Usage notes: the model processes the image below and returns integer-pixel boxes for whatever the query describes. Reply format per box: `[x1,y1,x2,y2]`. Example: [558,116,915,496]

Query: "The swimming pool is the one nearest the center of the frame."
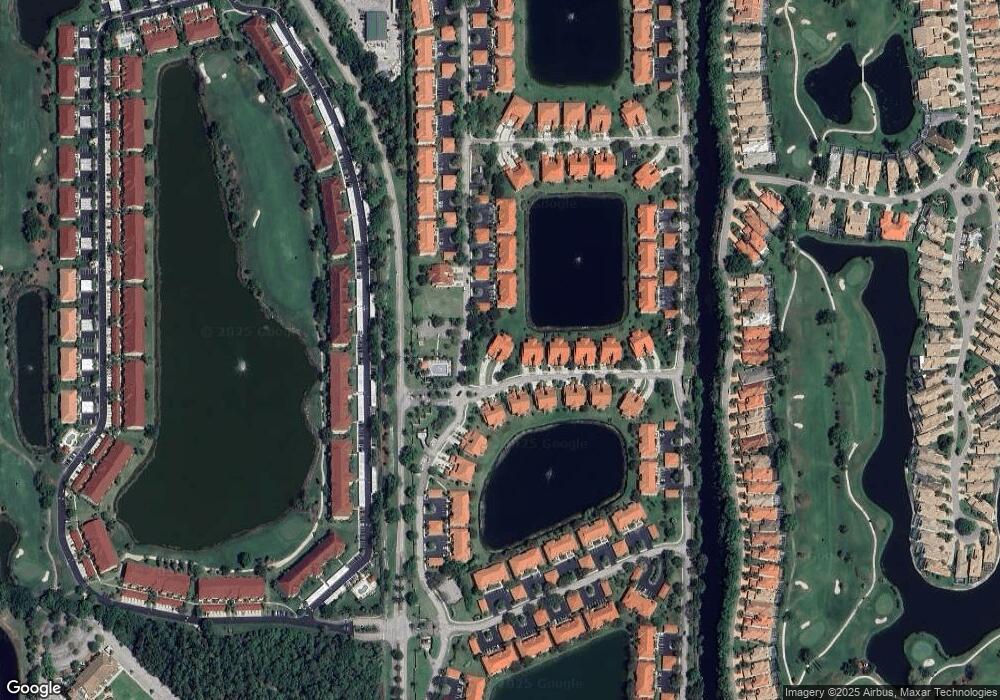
[420,358,451,376]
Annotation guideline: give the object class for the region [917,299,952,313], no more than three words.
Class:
house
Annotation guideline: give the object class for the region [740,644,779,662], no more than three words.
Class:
house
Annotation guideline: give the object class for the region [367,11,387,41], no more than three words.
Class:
building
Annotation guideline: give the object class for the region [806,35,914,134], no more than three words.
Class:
pond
